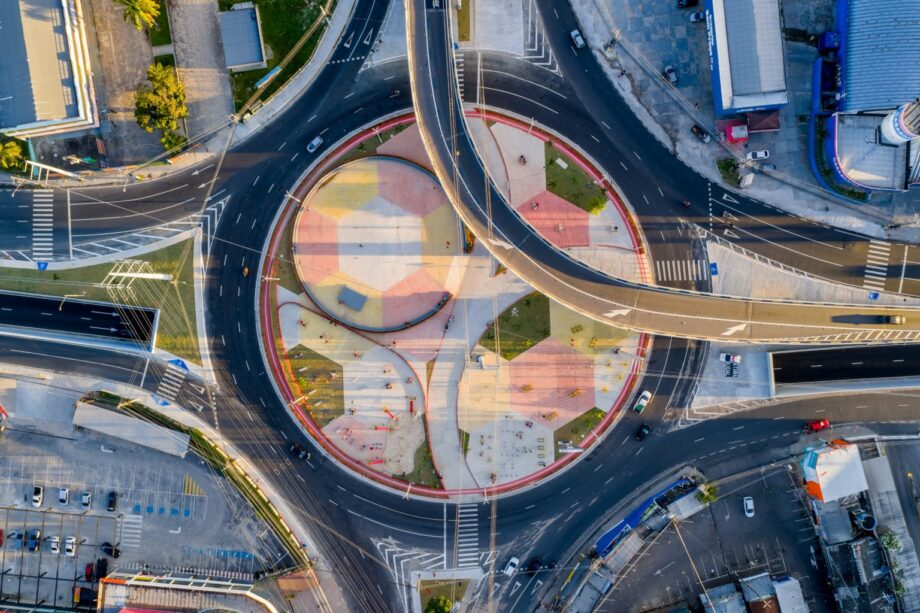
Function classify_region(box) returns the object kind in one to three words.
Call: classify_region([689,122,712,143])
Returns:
vehicle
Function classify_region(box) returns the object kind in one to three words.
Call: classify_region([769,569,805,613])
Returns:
house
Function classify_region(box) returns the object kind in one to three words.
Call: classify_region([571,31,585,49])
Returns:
car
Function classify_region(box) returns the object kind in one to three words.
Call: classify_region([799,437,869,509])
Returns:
building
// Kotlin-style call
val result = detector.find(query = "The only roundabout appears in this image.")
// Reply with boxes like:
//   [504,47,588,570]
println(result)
[255,102,655,502]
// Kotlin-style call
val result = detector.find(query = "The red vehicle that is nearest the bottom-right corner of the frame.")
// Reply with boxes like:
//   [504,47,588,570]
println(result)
[804,419,830,433]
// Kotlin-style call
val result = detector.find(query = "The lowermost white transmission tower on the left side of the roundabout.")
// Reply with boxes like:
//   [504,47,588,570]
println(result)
[104,253,175,289]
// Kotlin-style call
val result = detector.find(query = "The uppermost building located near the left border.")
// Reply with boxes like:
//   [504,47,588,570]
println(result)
[0,0,102,145]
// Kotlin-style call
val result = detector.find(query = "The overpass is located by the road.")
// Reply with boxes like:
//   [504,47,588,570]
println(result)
[405,0,920,342]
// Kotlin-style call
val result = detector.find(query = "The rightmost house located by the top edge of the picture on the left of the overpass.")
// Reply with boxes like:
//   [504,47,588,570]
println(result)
[221,2,270,73]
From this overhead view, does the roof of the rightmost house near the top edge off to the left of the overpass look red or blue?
blue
